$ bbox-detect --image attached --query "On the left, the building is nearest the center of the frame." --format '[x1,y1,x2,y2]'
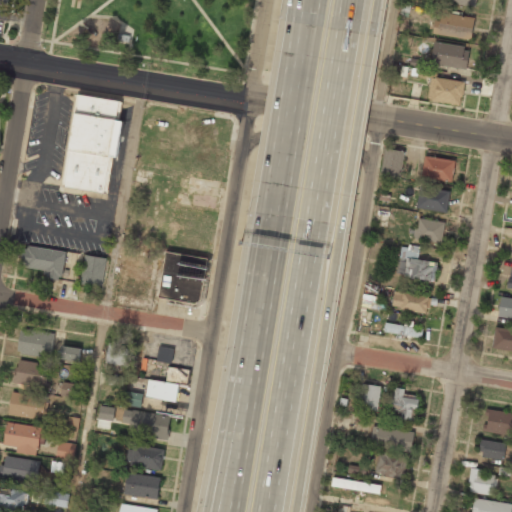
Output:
[159,250,209,302]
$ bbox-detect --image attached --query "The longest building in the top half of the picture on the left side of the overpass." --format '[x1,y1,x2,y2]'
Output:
[62,95,123,200]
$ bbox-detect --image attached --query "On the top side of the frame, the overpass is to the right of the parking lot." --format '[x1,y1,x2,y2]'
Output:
[258,83,375,148]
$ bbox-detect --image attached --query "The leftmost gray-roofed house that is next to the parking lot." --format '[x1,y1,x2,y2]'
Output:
[24,246,66,282]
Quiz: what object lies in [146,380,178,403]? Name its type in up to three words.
building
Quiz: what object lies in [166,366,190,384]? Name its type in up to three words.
building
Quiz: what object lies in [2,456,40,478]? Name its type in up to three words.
house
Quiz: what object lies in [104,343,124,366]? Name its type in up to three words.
house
